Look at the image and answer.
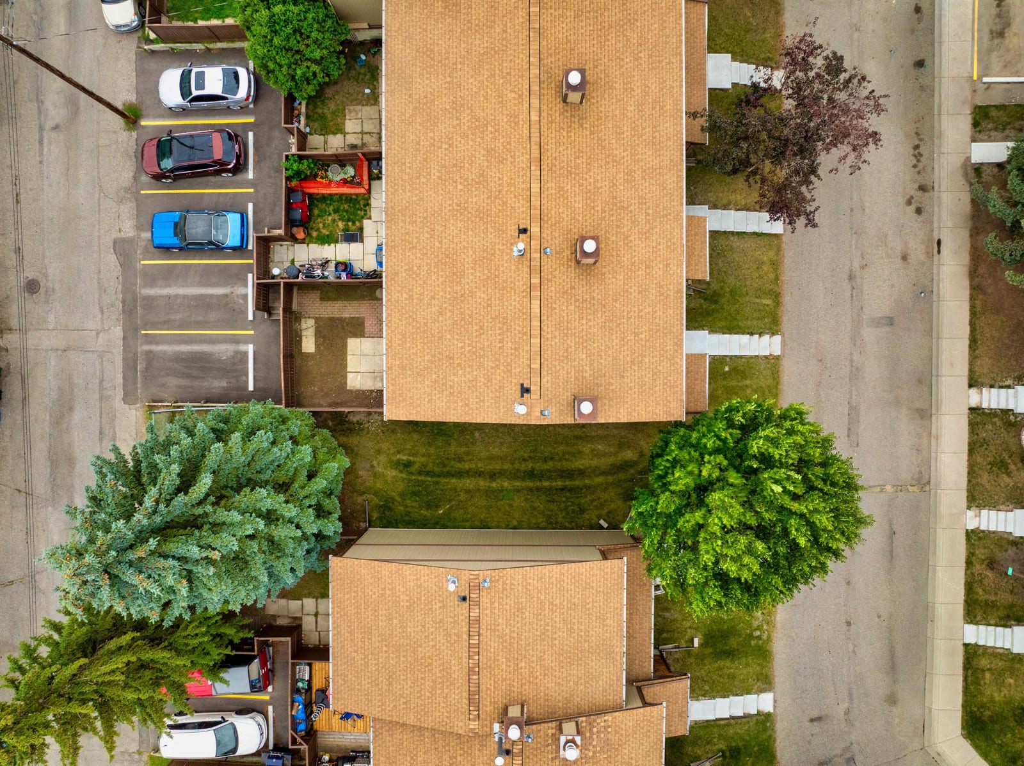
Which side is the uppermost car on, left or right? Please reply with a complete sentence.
The uppermost car is on the left side of the image.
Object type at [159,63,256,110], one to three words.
car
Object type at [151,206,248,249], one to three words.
car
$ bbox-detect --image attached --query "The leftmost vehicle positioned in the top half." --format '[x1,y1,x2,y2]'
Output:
[100,0,147,36]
